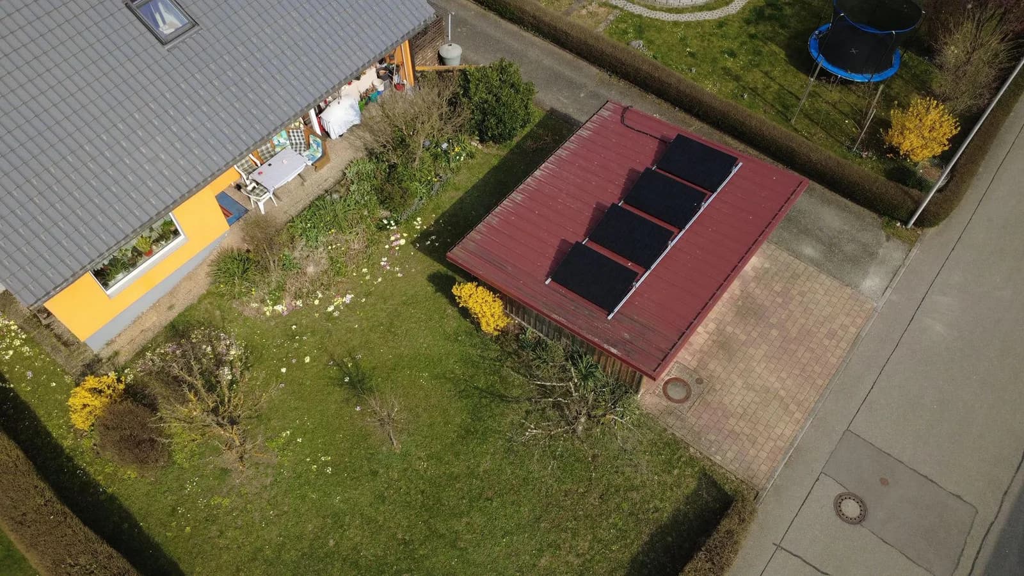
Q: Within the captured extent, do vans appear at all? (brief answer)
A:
No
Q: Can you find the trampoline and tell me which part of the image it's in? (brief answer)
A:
top right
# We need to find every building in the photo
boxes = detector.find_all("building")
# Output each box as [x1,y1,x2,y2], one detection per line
[0,0,450,349]
[444,100,810,396]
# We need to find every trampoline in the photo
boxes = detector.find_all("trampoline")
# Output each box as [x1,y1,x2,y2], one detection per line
[799,0,926,104]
